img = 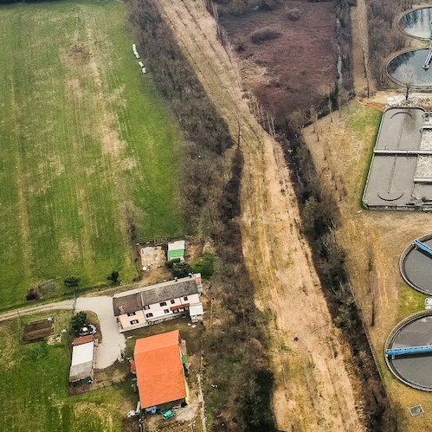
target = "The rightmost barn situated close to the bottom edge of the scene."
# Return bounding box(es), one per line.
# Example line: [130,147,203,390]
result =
[131,336,196,416]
